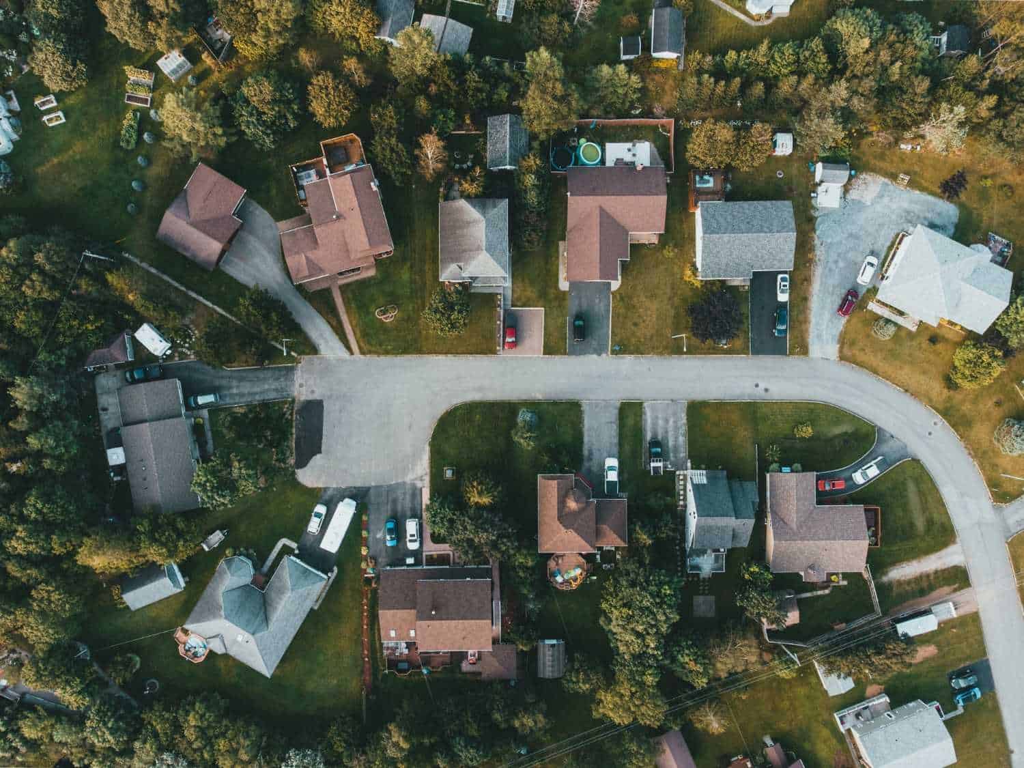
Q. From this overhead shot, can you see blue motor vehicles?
Yes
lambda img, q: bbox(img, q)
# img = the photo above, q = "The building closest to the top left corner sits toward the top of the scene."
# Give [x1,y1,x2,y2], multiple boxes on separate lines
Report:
[157,162,251,270]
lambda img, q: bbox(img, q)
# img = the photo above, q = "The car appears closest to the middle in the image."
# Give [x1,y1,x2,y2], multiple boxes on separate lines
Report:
[504,326,518,350]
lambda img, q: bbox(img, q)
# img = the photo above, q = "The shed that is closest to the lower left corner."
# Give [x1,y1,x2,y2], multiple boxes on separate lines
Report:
[120,568,188,611]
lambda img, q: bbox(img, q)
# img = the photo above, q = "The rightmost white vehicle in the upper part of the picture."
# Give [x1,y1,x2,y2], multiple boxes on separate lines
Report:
[855,254,879,287]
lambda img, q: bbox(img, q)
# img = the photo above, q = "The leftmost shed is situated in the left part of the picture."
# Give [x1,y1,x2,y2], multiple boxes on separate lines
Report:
[83,332,135,371]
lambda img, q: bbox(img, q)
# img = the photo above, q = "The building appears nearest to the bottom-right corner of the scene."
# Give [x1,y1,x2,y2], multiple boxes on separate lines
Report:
[832,692,957,768]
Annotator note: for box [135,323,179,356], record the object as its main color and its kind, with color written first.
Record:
white camper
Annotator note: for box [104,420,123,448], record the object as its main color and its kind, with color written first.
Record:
black car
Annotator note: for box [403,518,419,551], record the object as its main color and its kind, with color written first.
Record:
white car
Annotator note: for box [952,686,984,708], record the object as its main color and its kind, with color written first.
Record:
blue car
